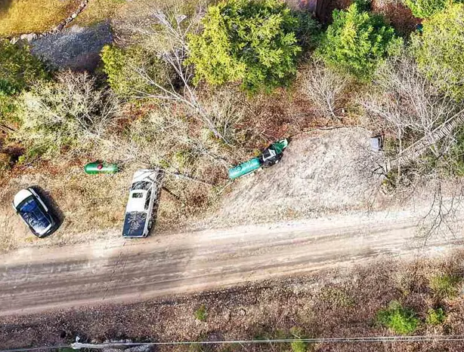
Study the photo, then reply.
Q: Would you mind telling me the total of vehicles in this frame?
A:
3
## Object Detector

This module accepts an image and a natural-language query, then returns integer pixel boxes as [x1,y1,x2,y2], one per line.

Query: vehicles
[256,134,298,173]
[122,170,166,246]
[16,188,60,245]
